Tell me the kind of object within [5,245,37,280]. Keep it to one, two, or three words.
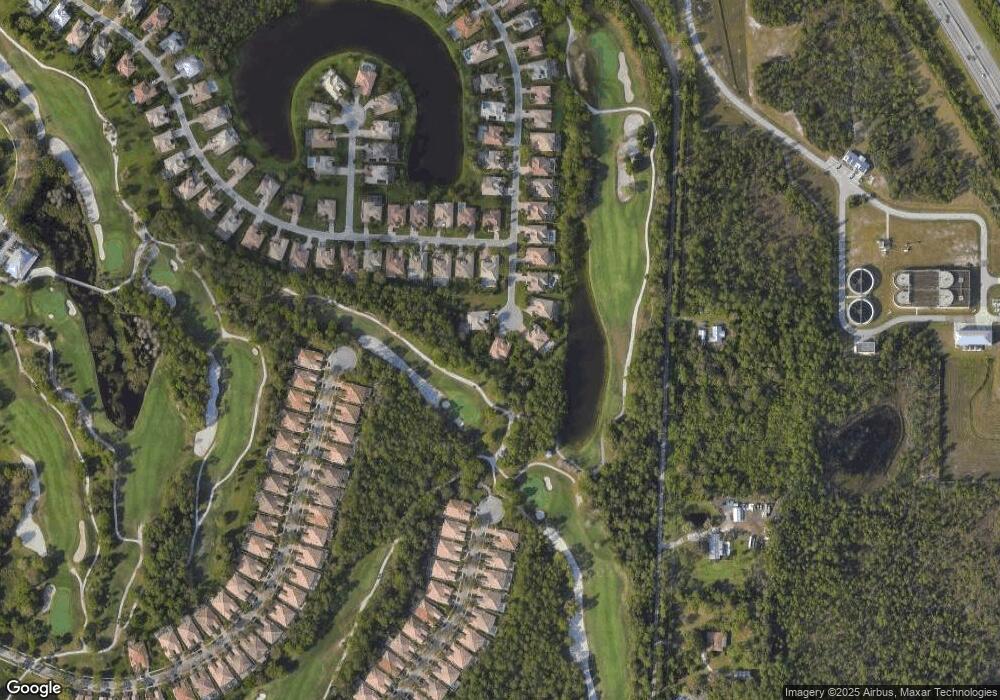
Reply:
building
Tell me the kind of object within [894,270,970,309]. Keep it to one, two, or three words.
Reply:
storage tank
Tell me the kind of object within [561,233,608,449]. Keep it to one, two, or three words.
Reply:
pond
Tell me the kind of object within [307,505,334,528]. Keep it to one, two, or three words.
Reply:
house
